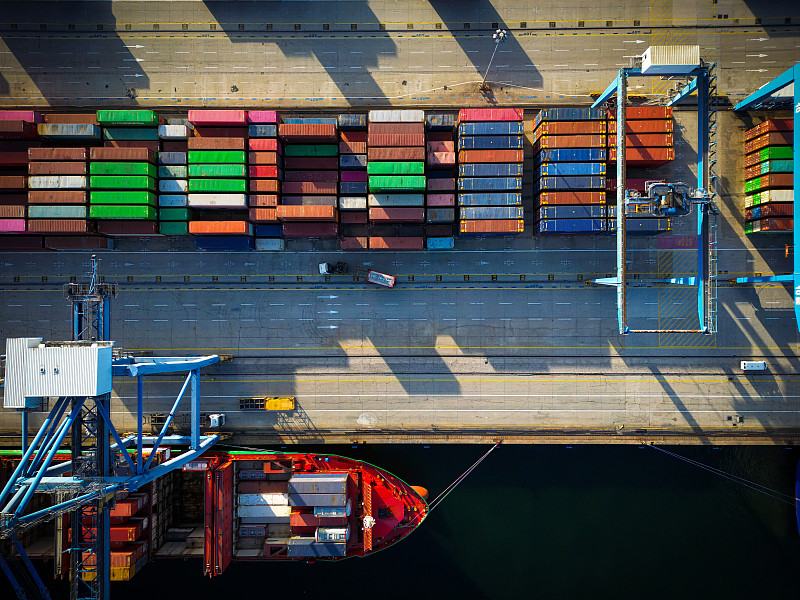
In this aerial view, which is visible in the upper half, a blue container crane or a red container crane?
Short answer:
blue container crane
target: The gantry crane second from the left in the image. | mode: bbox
[578,45,722,336]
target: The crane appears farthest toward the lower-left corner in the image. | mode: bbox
[0,252,241,600]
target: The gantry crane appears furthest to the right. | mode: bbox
[729,66,800,333]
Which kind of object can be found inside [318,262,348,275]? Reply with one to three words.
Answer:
vehicle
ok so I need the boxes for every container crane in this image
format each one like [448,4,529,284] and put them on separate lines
[578,45,722,336]
[0,252,241,600]
[729,66,800,333]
